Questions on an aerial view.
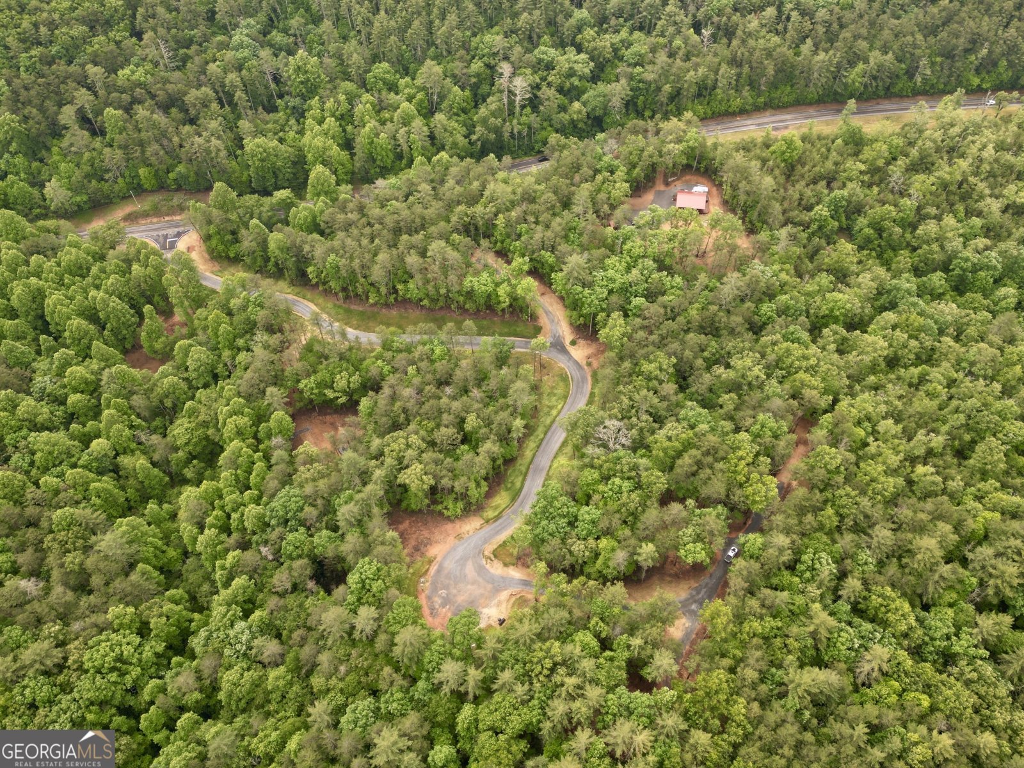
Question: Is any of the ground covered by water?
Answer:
No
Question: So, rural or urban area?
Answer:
rural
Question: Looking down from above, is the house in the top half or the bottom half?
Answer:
top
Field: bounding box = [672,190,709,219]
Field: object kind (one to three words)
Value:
house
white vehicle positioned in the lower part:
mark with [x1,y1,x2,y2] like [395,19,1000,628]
[726,545,738,560]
